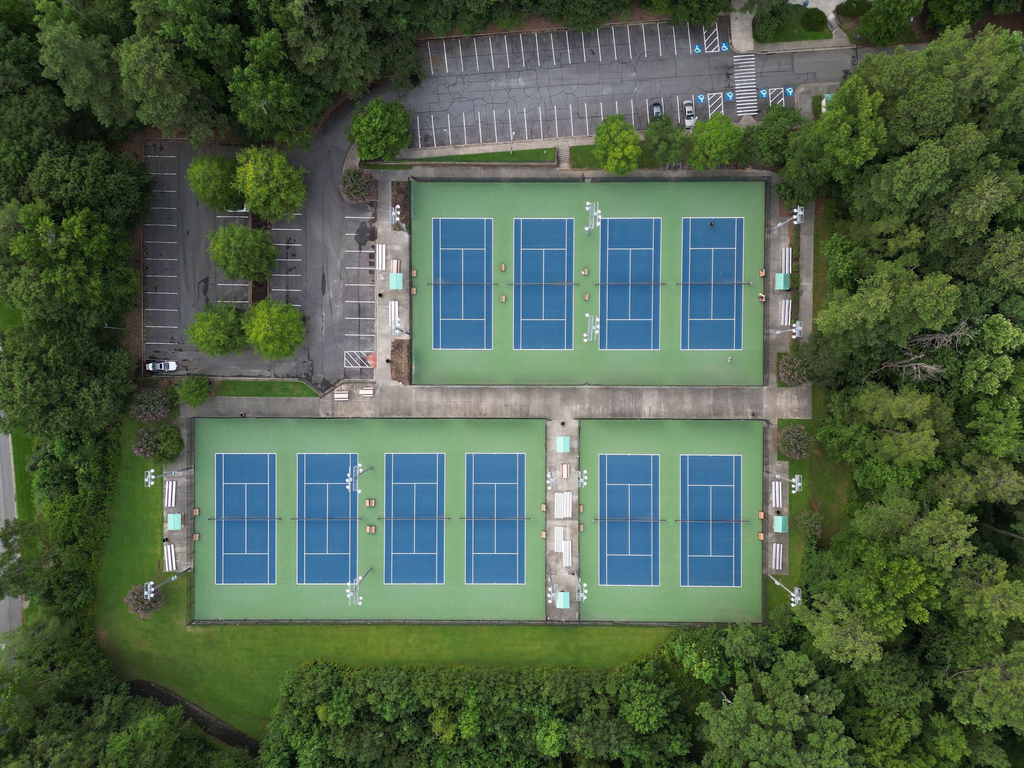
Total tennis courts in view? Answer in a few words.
10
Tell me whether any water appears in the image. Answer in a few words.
No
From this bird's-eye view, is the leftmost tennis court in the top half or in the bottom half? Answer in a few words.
bottom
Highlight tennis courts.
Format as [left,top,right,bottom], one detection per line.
[675,455,751,587]
[426,218,498,350]
[205,453,281,584]
[677,217,754,350]
[592,454,667,586]
[289,453,363,584]
[507,218,580,350]
[377,453,451,584]
[460,453,533,584]
[594,218,668,350]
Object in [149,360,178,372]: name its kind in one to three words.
vehicle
